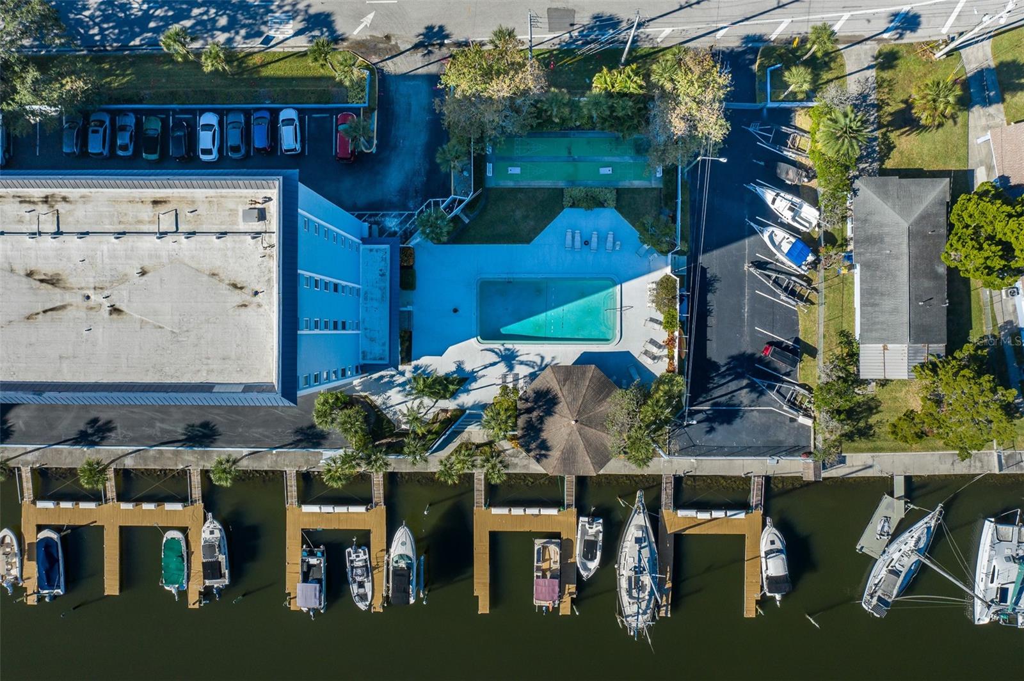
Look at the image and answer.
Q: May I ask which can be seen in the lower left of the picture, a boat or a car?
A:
boat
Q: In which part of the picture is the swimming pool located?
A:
center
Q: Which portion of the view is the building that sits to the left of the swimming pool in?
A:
left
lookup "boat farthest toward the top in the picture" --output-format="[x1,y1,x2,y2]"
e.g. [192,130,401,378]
[775,160,817,188]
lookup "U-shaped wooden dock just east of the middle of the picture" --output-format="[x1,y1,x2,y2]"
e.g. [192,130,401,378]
[474,473,578,615]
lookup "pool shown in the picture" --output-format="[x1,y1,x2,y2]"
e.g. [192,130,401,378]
[478,276,626,343]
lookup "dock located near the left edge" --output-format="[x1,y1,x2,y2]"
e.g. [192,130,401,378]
[15,468,205,608]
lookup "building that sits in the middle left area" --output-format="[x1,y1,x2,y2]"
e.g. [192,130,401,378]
[0,167,399,405]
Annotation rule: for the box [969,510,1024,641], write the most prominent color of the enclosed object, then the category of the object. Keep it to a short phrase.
white boat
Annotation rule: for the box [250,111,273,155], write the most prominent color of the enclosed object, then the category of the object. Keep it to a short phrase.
blue car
